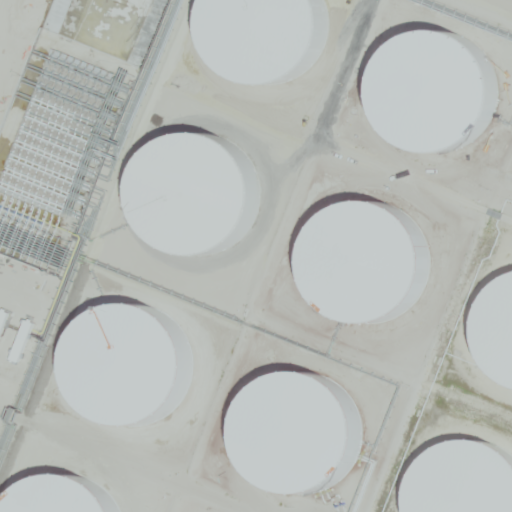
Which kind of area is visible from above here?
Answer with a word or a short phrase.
industrial area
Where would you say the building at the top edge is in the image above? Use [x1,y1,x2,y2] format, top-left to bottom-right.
[42,0,74,30]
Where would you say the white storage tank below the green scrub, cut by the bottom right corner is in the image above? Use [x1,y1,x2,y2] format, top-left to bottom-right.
[397,438,512,512]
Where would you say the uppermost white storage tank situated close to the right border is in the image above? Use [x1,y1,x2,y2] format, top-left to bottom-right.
[360,30,500,154]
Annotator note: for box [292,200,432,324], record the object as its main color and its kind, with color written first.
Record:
white storage tank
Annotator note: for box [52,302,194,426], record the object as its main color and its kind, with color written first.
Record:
white storage tank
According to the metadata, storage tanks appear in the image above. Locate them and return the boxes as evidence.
[0,471,122,512]
[188,0,329,86]
[222,370,364,495]
[397,438,512,512]
[465,270,512,389]
[52,302,194,426]
[292,200,432,324]
[120,132,262,256]
[360,30,500,154]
